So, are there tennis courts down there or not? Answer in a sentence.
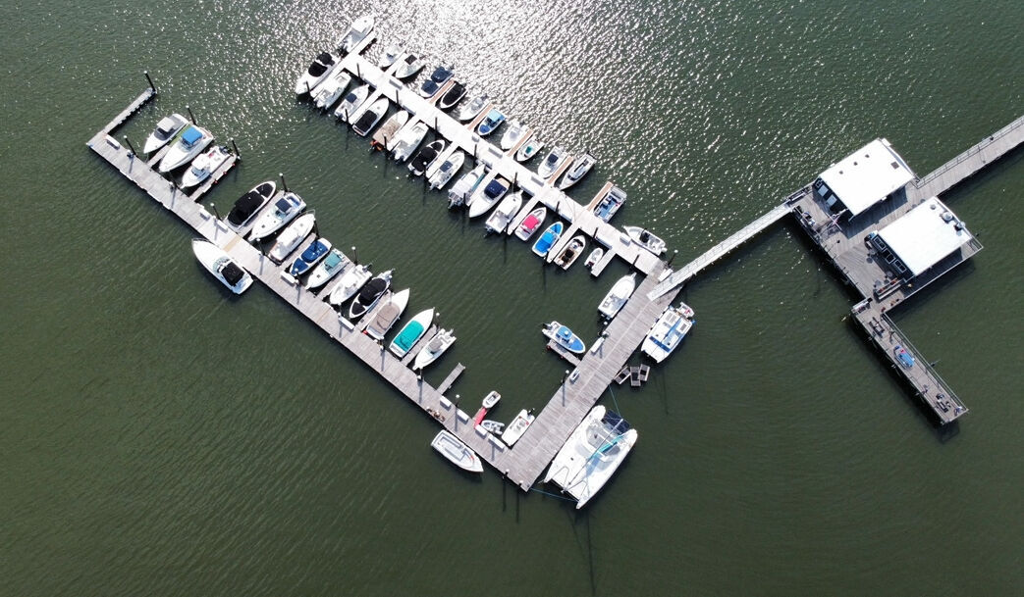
No, no tennis court is visible in the scene.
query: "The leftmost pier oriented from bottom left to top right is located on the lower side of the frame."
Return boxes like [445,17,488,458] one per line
[497,258,684,493]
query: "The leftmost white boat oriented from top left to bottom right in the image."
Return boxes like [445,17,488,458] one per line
[191,238,259,299]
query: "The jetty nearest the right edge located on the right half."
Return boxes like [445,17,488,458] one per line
[787,119,1024,431]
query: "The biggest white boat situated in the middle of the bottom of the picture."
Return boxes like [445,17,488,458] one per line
[542,406,636,512]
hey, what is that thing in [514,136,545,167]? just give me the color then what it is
white boat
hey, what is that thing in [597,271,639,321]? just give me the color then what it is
white boat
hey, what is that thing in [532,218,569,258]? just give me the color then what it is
blue boat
